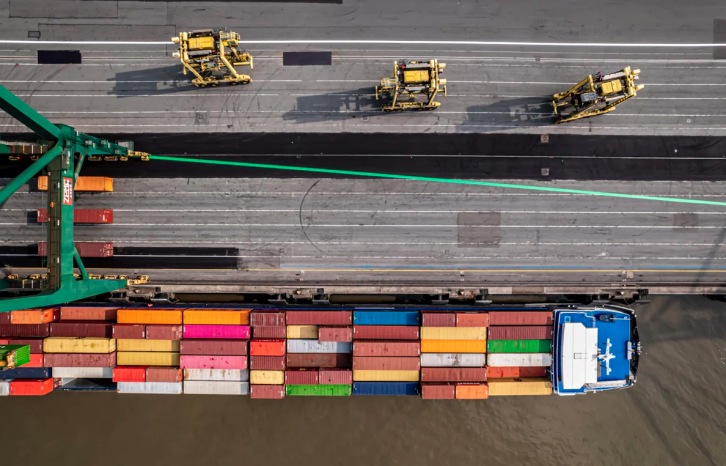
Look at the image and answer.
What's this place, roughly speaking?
port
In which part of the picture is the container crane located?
left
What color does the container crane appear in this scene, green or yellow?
green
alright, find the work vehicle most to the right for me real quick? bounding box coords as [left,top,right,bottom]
[549,68,642,126]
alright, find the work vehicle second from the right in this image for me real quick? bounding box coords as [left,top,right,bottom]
[376,61,447,109]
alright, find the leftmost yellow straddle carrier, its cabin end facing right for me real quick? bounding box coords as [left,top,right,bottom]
[177,32,257,84]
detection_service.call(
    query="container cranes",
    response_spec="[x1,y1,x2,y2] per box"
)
[0,84,149,313]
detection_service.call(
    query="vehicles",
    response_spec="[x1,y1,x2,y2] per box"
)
[177,32,257,84]
[376,61,447,109]
[549,68,642,126]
